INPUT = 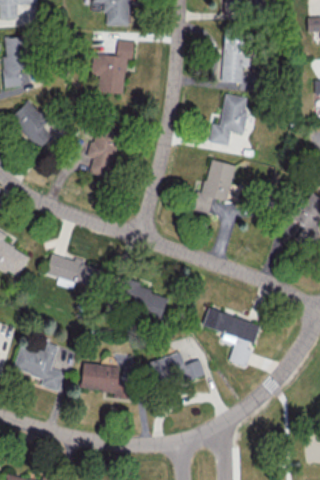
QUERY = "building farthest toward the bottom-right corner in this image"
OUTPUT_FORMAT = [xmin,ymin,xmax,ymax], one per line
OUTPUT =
[230,336,253,366]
